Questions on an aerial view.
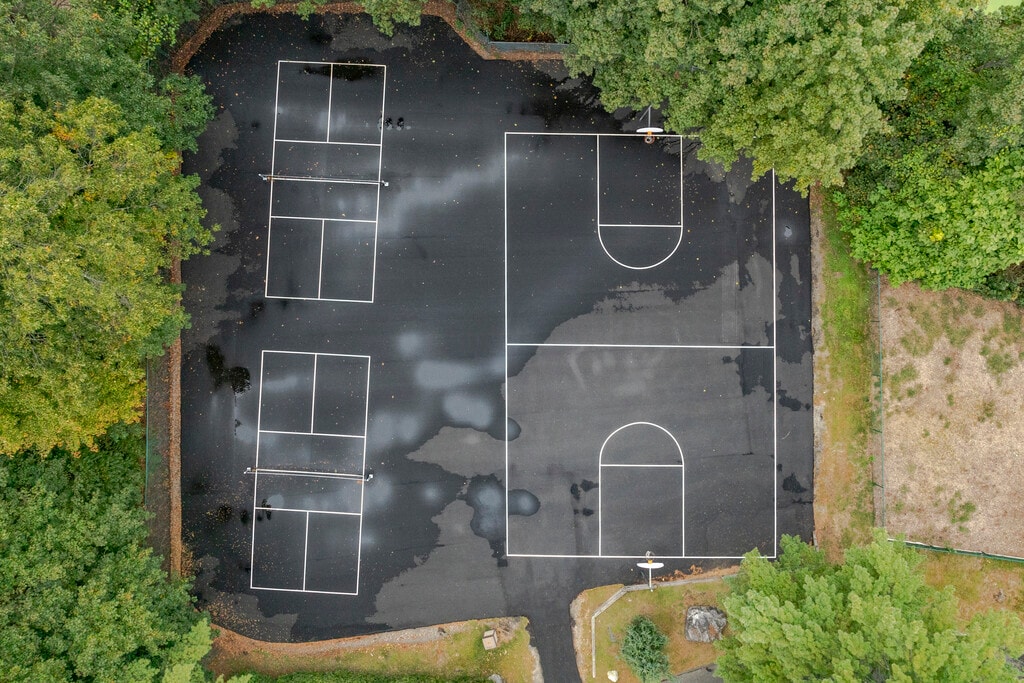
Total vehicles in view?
0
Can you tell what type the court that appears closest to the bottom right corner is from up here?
basketball court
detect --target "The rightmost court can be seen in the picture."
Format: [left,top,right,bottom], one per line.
[505,131,777,558]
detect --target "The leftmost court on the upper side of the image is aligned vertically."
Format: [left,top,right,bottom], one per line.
[265,61,386,303]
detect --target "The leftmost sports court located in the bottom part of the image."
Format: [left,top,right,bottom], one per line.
[250,350,371,595]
